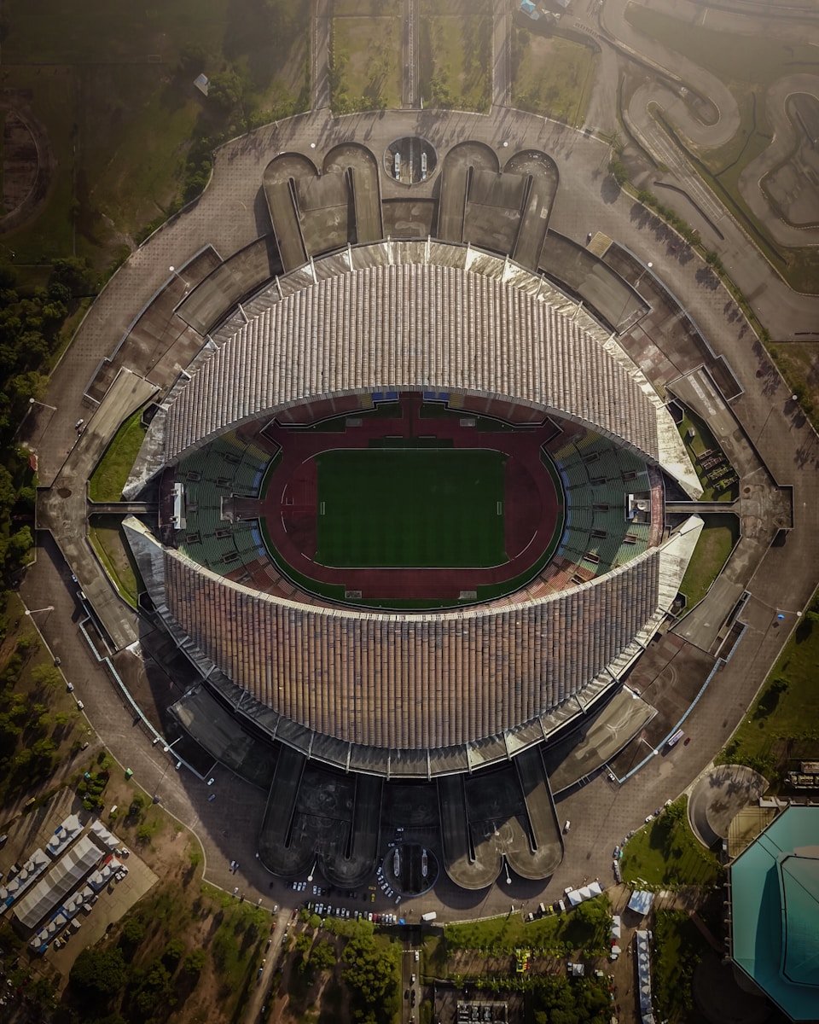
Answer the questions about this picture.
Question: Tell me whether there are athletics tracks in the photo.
Yes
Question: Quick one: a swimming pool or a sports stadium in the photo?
sports stadium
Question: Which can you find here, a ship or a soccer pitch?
soccer pitch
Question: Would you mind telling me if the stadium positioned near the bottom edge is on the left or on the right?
right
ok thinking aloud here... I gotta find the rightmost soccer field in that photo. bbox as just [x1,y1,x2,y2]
[318,449,504,567]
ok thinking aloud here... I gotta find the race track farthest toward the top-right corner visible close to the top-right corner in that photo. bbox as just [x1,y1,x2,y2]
[599,0,819,343]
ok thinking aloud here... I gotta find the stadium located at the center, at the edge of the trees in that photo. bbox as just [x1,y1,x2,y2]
[122,237,704,780]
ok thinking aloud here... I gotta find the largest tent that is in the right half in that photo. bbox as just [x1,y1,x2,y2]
[626,890,655,915]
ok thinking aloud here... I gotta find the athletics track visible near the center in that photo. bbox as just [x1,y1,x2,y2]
[260,401,564,609]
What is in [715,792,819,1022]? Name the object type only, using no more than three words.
stadium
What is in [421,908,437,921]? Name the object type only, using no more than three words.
vehicle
